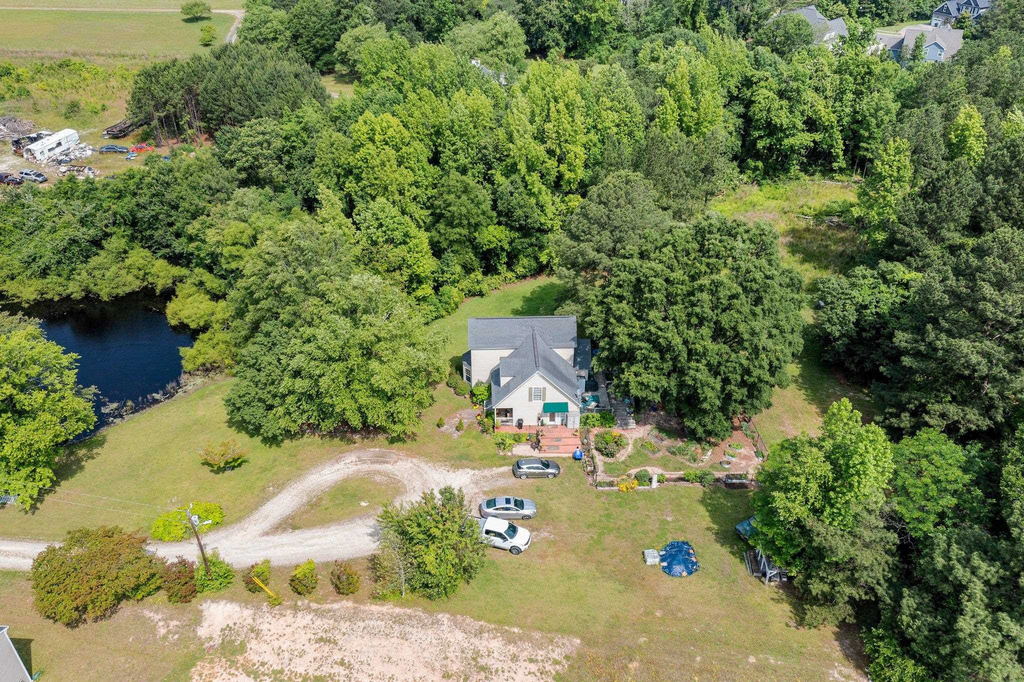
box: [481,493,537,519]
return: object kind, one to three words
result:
car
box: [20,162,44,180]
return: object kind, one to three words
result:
car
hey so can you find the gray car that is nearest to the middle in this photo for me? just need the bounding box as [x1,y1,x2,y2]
[513,455,561,479]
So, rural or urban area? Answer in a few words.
rural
